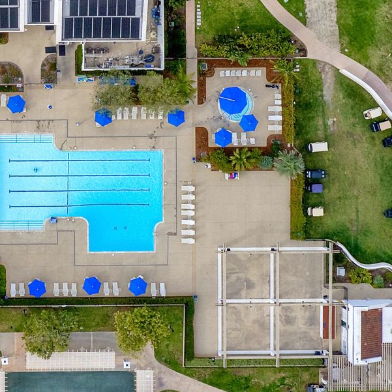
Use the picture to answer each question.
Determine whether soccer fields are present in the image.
No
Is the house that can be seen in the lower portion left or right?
right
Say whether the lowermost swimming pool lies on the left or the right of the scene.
left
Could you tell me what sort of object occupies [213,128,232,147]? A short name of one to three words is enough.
umbrella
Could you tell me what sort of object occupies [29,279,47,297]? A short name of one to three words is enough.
umbrella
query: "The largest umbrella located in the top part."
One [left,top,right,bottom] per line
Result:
[219,88,246,116]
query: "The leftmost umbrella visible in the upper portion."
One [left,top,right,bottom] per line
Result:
[8,95,24,113]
